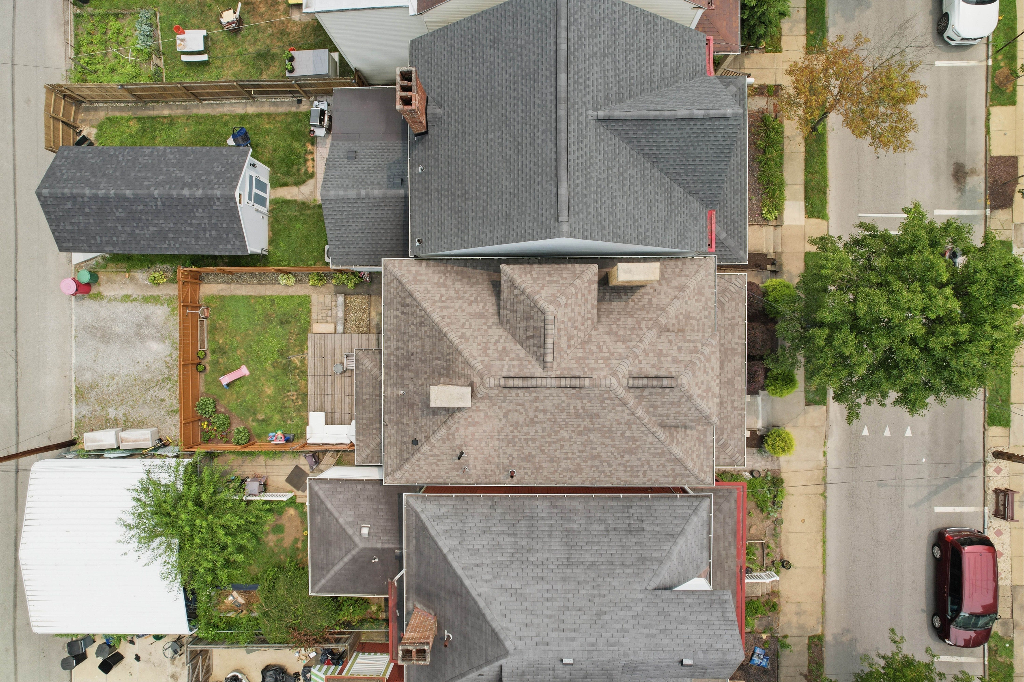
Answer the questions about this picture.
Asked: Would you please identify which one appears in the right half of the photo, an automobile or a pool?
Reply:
automobile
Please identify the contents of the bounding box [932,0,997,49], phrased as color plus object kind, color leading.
white car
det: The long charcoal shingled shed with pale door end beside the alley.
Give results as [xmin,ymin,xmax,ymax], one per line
[36,145,278,256]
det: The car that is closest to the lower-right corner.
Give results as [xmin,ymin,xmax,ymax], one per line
[927,526,996,648]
